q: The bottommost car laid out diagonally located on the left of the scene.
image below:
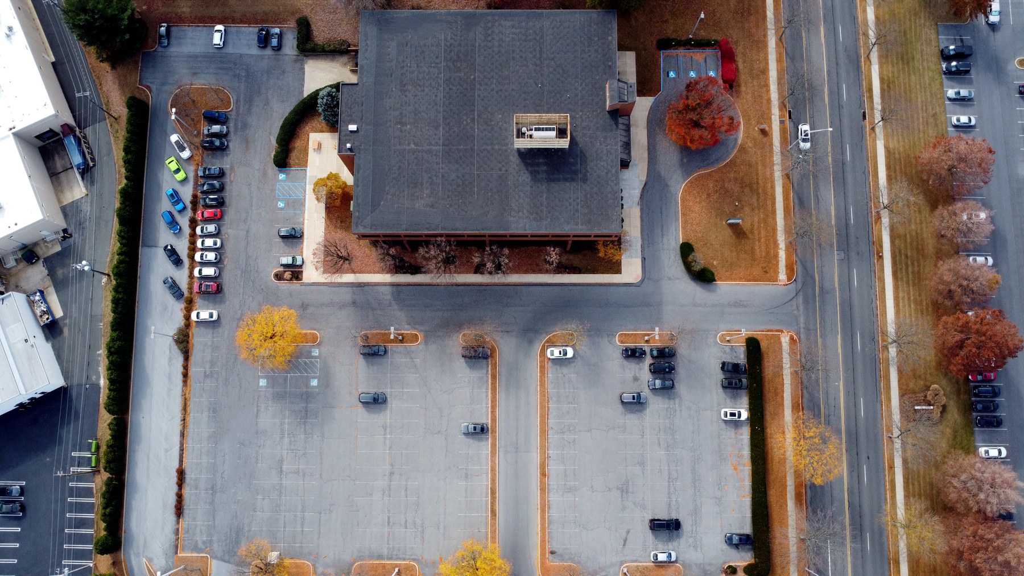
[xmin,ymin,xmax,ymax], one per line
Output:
[163,275,184,301]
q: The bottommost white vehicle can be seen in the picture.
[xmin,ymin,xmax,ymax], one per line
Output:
[649,550,677,564]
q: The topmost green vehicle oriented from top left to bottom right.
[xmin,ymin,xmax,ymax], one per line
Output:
[167,157,186,181]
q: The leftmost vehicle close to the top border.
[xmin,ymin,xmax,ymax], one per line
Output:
[158,24,171,48]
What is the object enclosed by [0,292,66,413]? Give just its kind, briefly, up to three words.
shed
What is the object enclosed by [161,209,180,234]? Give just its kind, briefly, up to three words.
car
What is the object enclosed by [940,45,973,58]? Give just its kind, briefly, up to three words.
vehicle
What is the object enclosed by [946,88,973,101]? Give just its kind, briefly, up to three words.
vehicle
